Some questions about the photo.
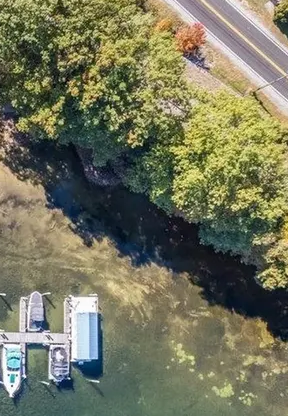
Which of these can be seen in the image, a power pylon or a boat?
boat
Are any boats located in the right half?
No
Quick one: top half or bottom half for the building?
bottom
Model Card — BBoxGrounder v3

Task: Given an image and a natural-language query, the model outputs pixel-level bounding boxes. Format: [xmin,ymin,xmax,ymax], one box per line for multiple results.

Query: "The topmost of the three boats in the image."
[26,292,44,331]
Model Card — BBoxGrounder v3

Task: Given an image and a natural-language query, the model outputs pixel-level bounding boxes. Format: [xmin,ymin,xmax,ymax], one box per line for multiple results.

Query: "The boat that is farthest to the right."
[50,343,68,386]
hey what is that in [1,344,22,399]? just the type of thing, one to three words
boat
